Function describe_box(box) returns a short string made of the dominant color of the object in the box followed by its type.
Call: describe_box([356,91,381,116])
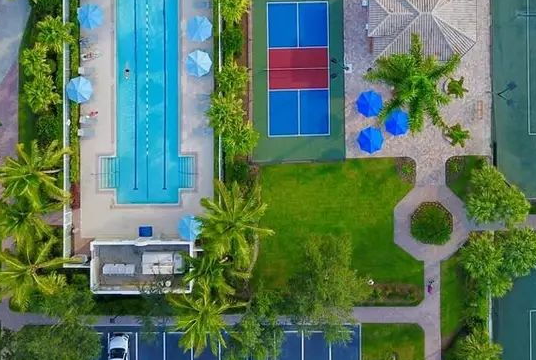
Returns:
blue umbrella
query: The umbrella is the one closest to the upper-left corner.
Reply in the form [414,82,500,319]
[79,4,105,30]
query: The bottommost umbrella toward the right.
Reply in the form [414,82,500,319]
[357,127,384,153]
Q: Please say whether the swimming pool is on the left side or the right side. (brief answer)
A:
left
